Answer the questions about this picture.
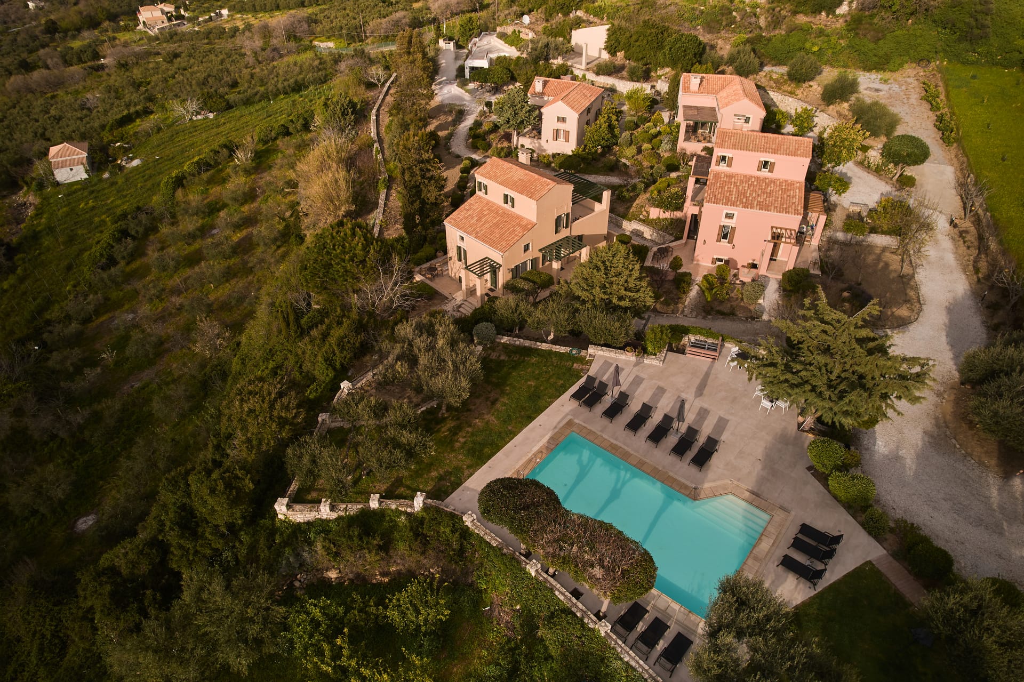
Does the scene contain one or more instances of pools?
Yes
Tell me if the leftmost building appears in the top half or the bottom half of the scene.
top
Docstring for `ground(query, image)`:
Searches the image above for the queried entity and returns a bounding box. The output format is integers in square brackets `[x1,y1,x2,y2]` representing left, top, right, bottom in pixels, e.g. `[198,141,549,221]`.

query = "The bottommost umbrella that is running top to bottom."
[671,400,685,438]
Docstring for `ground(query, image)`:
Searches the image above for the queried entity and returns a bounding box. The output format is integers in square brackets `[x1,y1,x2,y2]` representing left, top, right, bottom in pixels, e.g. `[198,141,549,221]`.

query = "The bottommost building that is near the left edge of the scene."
[51,139,106,184]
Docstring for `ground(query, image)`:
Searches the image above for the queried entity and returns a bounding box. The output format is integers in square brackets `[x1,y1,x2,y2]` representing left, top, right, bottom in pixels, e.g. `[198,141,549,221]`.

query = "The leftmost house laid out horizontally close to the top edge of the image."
[141,4,199,36]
